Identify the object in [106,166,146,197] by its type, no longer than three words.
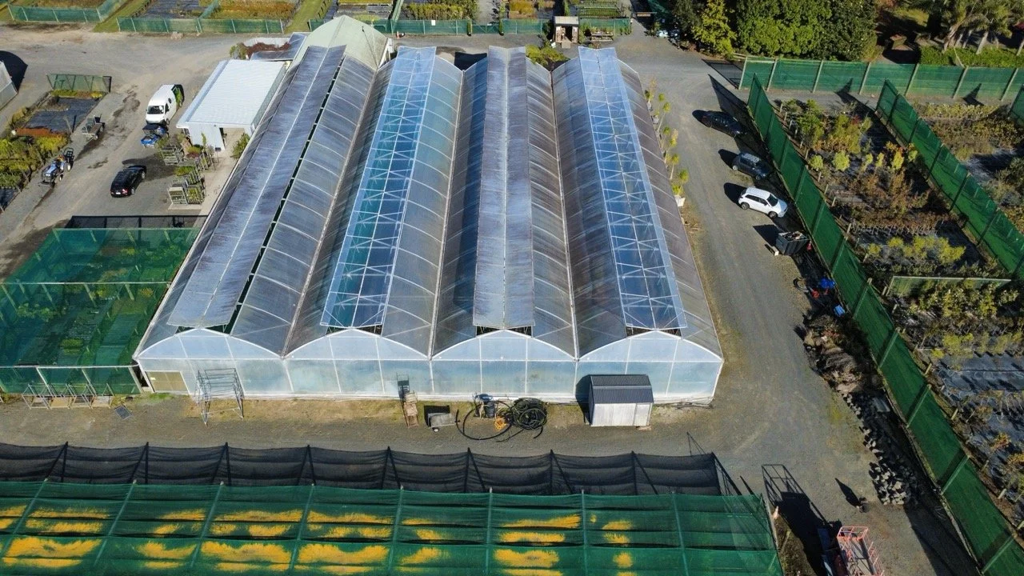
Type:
car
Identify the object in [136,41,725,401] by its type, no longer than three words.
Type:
greenhouse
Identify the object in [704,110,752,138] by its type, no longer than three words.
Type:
car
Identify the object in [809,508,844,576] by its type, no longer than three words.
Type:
trailer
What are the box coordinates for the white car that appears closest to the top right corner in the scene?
[735,184,792,219]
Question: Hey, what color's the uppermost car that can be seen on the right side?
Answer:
black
